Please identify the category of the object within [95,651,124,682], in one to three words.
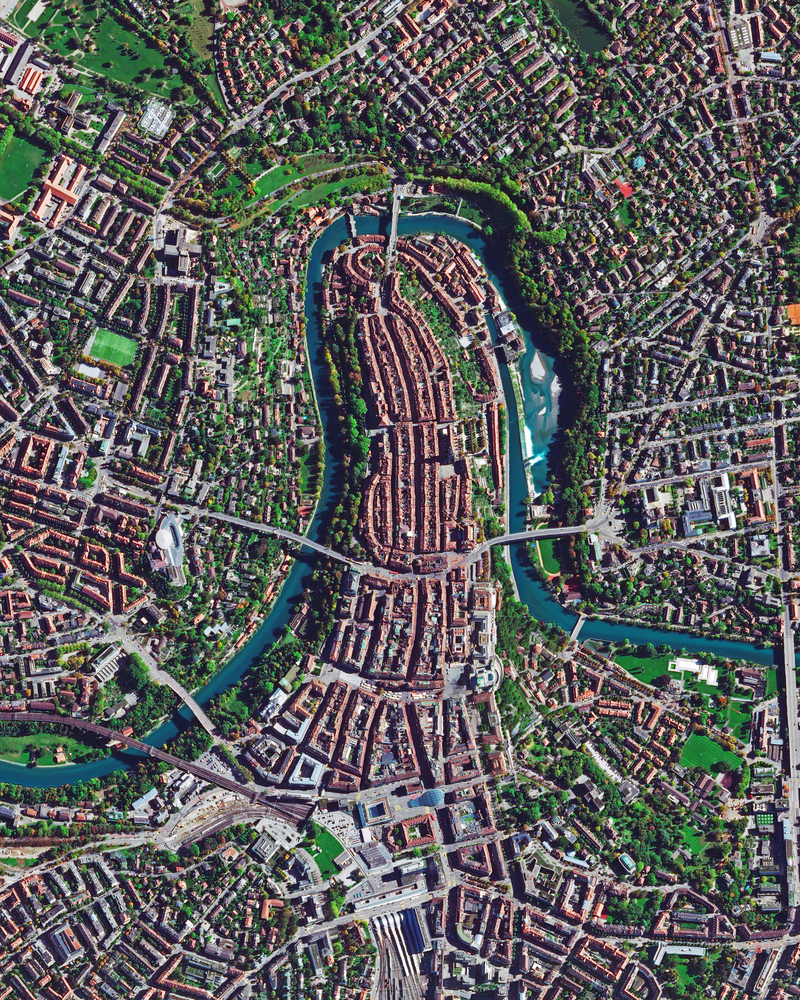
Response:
shed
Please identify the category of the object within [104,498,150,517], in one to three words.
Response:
building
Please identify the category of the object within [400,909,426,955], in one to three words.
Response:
shed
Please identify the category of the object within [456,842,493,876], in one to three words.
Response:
building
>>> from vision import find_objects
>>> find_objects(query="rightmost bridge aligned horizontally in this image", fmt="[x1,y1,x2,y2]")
[465,521,594,563]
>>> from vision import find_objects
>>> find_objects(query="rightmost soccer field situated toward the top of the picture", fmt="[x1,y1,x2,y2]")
[90,329,139,367]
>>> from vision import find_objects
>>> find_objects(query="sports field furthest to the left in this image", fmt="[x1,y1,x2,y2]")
[0,135,46,199]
